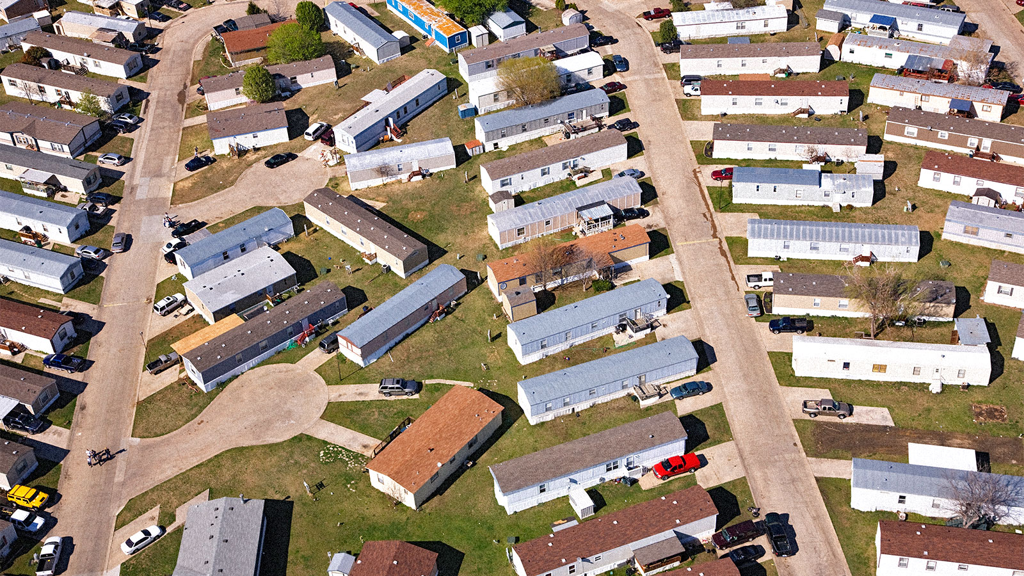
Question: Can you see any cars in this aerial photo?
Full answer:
Yes, a car can be made out from above.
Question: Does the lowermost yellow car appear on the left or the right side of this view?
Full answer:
It is on the left.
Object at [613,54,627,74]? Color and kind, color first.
blue car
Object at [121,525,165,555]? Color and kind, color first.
white car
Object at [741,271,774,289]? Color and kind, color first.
white vehicle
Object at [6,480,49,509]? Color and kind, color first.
yellow car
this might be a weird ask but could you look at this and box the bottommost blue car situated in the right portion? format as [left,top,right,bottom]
[670,379,710,400]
